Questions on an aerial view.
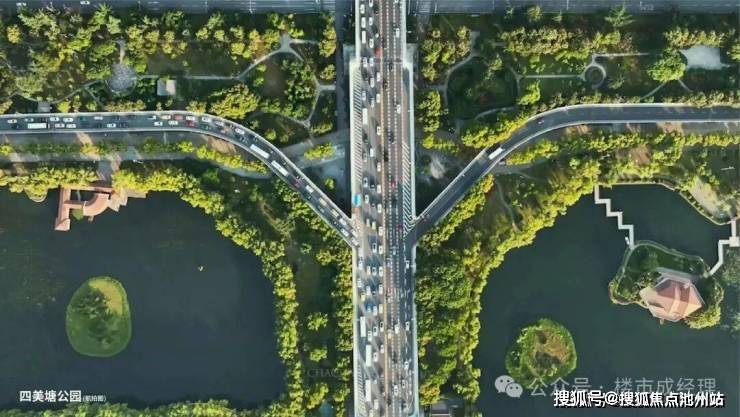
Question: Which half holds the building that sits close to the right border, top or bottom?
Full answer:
The bottom half of the photo is where the building that sits close to the right border is.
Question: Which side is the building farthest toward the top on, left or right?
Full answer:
You can find the building farthest toward the top on the left side of the picture.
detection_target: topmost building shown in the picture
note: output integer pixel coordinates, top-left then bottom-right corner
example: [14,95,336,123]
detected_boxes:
[156,77,178,97]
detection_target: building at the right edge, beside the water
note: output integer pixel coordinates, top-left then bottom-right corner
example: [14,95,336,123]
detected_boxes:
[632,269,703,323]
